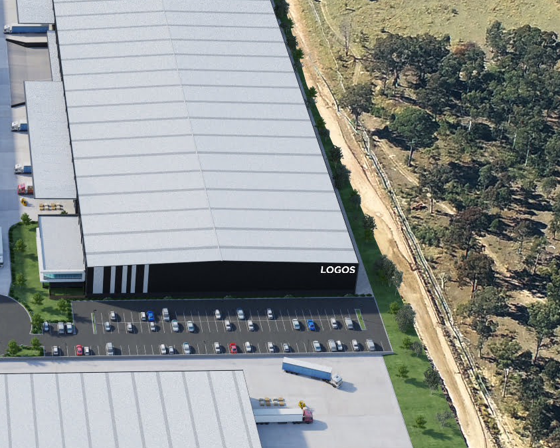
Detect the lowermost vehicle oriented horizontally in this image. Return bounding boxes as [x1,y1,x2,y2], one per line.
[256,408,315,424]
